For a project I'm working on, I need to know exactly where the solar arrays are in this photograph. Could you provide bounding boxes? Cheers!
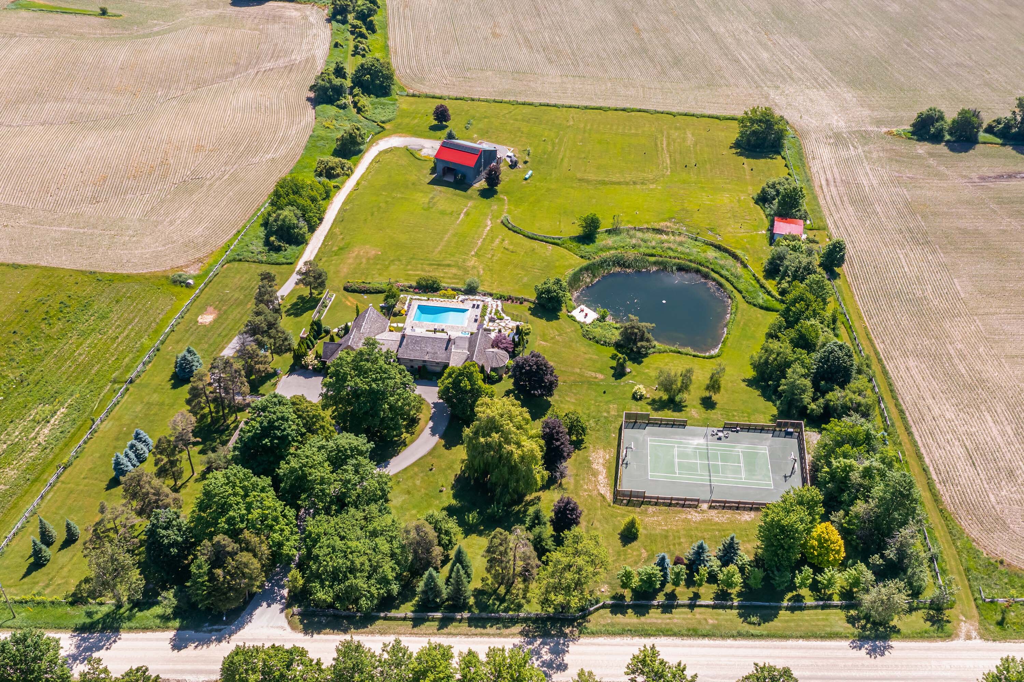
[441,139,481,156]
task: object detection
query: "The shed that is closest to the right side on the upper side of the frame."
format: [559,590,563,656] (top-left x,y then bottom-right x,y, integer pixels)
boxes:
[771,219,806,240]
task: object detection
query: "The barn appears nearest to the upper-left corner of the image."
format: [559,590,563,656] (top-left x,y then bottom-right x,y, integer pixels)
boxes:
[433,139,494,183]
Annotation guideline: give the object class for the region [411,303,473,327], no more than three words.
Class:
swimming pool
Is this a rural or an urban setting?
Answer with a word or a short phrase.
rural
